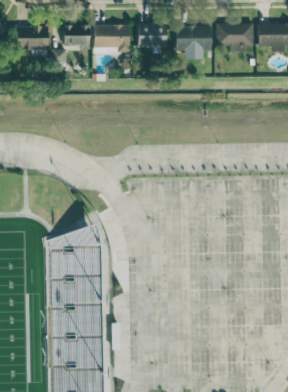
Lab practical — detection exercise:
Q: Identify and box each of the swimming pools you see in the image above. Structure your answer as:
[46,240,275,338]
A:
[267,52,288,72]
[94,54,120,74]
